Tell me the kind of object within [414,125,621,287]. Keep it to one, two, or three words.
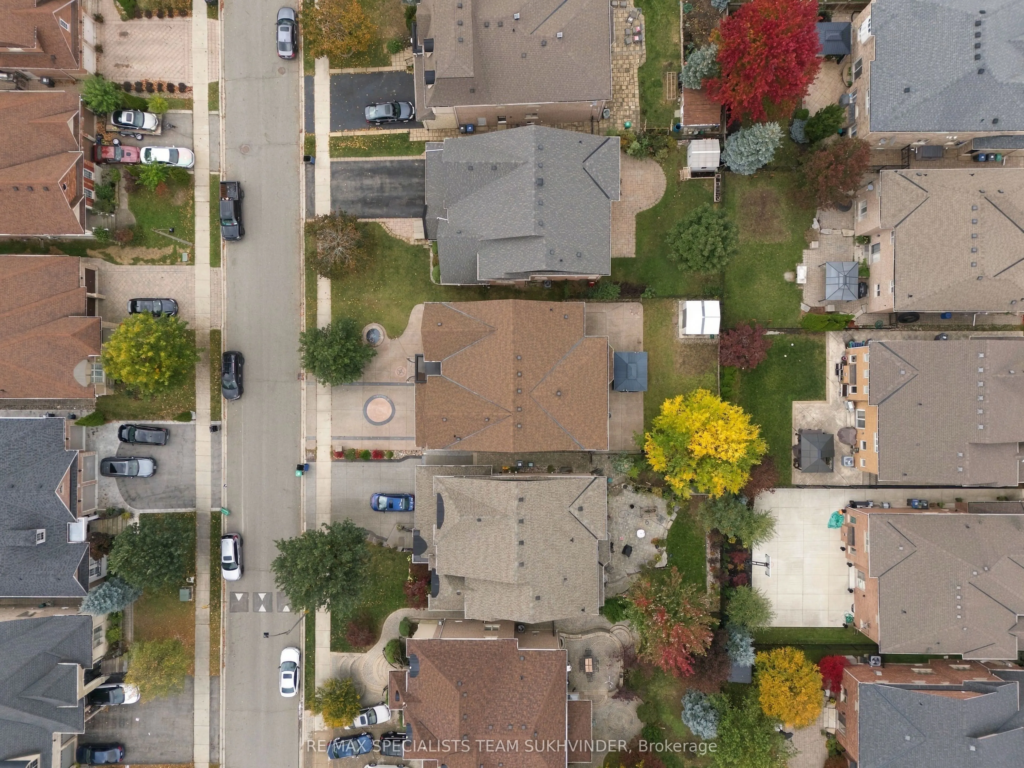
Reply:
house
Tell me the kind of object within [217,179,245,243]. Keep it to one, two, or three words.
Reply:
truck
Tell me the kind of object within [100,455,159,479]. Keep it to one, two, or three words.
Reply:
car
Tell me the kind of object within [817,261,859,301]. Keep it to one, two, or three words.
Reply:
gazebo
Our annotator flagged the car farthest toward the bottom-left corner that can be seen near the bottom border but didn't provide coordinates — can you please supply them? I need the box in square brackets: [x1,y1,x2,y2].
[77,739,127,767]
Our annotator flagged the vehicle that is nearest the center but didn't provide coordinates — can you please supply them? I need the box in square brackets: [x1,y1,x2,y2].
[371,492,415,514]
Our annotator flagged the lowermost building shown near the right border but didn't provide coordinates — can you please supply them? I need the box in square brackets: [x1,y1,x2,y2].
[824,661,1024,768]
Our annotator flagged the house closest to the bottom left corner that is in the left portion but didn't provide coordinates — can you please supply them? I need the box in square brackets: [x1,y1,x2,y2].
[0,608,124,768]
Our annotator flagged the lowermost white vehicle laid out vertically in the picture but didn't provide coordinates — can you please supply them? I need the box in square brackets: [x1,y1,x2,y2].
[277,645,302,697]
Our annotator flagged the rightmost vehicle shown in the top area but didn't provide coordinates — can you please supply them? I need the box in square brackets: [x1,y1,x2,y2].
[364,99,416,125]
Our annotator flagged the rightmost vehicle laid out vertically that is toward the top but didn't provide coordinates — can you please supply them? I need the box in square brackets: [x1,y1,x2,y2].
[274,8,299,61]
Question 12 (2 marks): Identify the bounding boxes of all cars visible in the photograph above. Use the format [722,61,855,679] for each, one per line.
[110,108,162,133]
[88,681,140,708]
[93,141,142,166]
[77,739,127,767]
[219,531,245,581]
[141,144,196,169]
[324,729,376,760]
[100,455,159,479]
[219,351,246,400]
[364,99,416,125]
[277,645,302,697]
[375,730,402,758]
[126,295,180,318]
[274,8,299,61]
[345,698,396,733]
[118,422,172,446]
[371,492,415,514]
